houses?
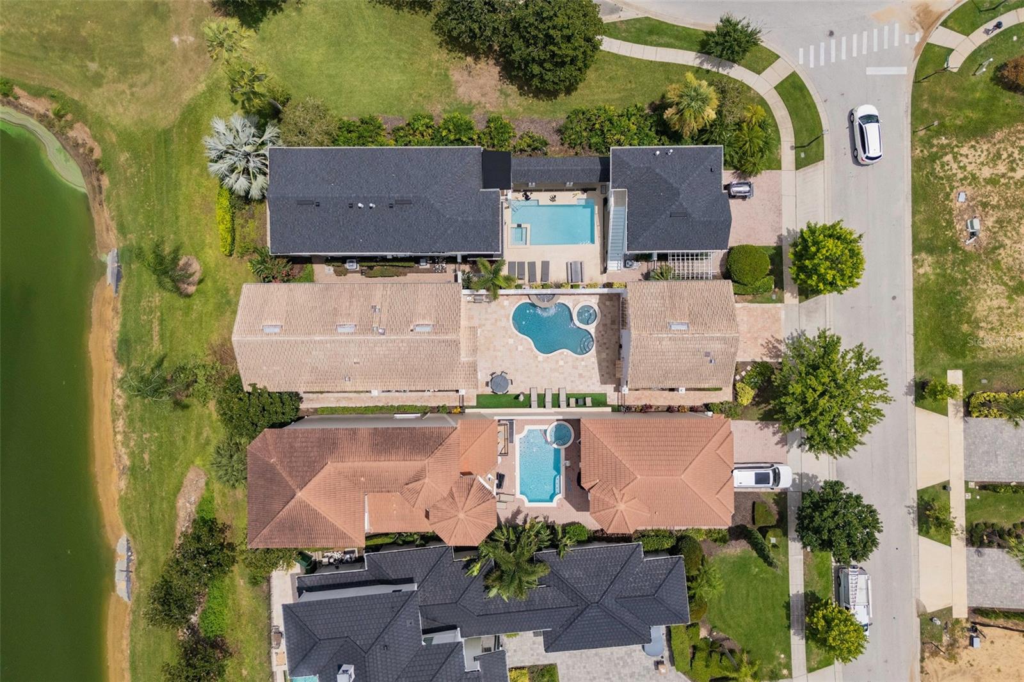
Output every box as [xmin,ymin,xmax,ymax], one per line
[266,146,512,266]
[618,280,740,394]
[281,535,691,682]
[245,407,499,550]
[231,283,478,396]
[577,405,735,535]
[606,144,731,253]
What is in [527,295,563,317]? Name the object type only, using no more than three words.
fountain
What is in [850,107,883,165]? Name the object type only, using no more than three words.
car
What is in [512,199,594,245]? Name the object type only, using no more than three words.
swimming pool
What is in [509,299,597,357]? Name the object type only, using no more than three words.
swimming pool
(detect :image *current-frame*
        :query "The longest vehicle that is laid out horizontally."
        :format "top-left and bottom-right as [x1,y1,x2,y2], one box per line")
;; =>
[733,463,791,492]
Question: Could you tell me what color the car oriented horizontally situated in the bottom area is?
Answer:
white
